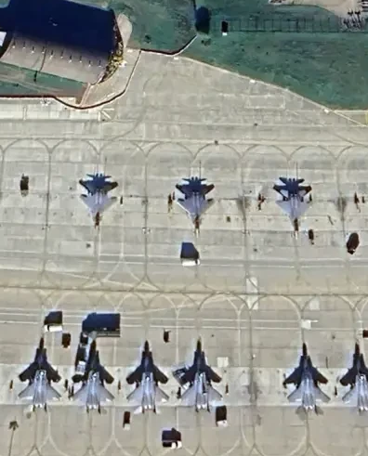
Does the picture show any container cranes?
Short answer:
No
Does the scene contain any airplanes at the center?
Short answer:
Yes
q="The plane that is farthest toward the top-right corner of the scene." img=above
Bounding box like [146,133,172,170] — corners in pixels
[274,182,313,239]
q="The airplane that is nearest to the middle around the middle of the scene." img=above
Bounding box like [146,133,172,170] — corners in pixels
[175,178,215,237]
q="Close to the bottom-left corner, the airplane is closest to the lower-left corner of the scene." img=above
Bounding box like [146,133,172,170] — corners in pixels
[19,355,60,420]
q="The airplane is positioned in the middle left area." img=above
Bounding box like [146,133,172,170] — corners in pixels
[79,178,117,234]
